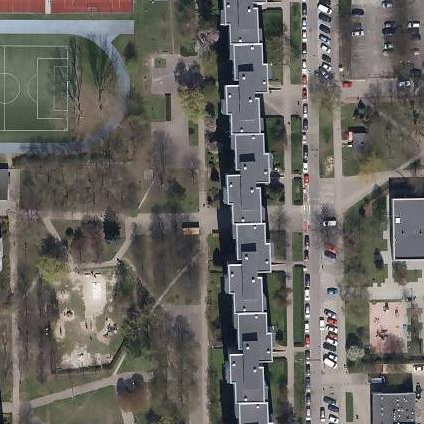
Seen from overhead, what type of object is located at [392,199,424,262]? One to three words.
building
